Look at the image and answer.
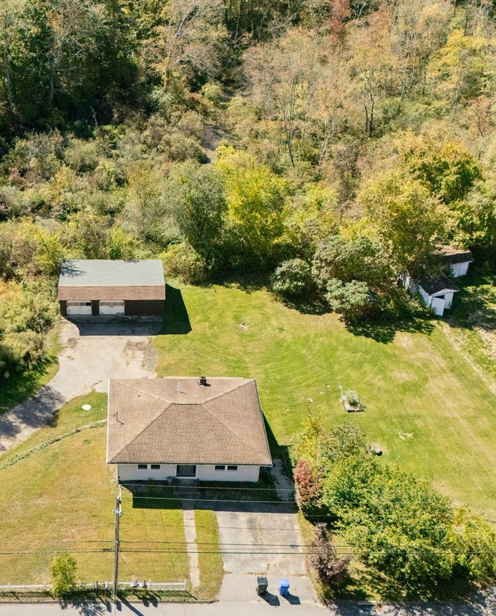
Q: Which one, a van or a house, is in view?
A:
house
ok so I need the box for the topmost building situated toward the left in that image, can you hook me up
[58,260,166,317]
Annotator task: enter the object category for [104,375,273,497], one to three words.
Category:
house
